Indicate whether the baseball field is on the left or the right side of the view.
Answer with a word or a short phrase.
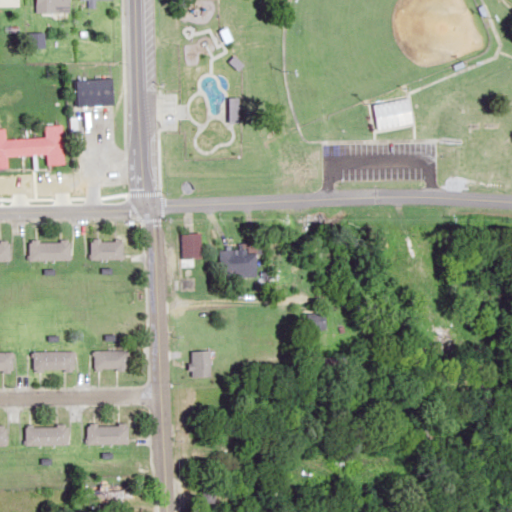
right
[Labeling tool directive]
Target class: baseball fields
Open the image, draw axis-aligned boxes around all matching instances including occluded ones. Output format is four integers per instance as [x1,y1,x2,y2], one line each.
[286,0,487,125]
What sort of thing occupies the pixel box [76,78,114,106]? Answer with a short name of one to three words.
building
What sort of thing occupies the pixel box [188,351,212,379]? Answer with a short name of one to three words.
house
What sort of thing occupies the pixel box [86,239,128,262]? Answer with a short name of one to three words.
house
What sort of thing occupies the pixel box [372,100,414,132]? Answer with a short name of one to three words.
building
